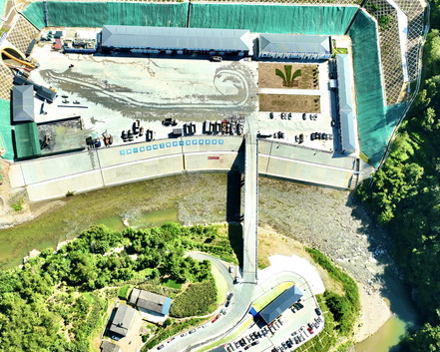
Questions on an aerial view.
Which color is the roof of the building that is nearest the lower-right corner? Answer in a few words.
blue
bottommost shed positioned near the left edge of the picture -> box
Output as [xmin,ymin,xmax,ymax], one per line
[13,123,40,158]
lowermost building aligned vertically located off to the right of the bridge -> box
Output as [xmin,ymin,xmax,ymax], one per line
[338,110,356,154]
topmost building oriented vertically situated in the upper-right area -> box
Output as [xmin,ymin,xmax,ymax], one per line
[334,55,352,110]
